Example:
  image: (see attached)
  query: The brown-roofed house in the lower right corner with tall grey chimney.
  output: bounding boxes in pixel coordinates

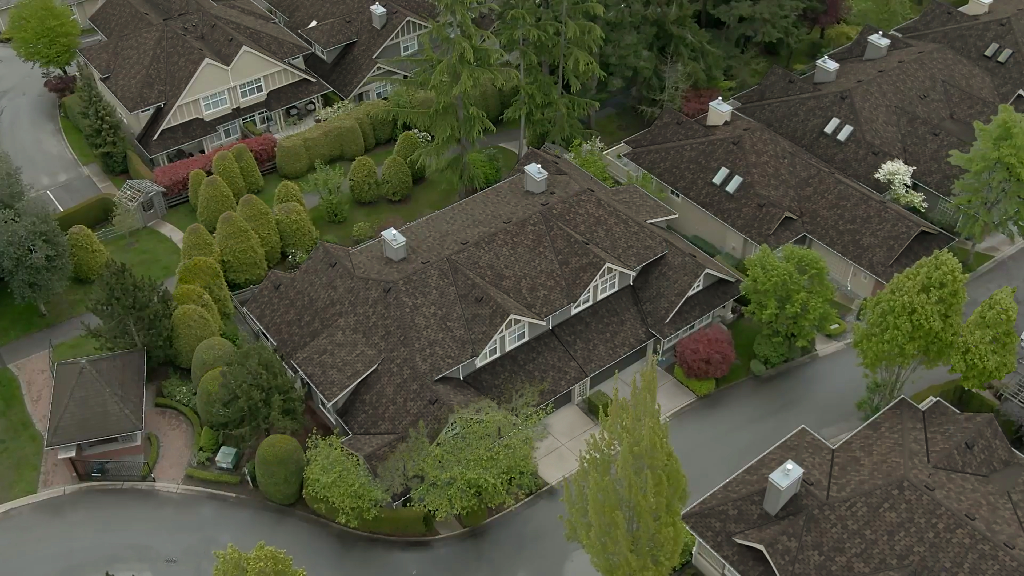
[673,398,1024,576]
